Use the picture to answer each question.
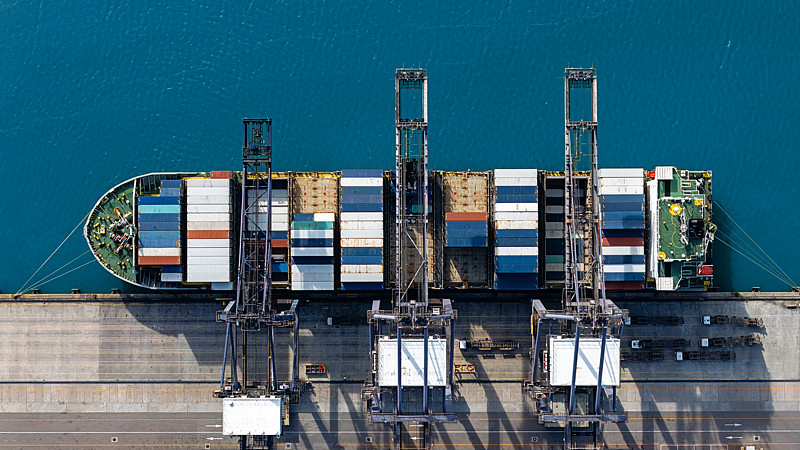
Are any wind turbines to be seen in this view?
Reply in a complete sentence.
No, the picture doesn't show any wind turbine.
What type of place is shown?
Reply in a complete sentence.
What you see here is a port.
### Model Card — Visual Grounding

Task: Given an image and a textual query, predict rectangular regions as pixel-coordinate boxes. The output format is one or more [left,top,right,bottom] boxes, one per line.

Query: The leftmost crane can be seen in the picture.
[212,116,318,450]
